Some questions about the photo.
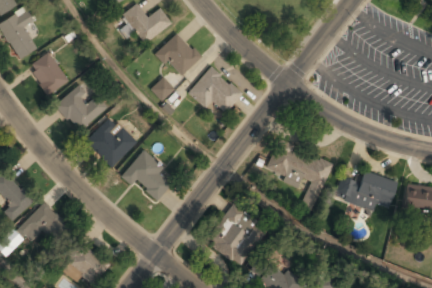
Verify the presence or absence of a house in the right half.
Yes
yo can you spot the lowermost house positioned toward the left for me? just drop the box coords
[64,249,108,283]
